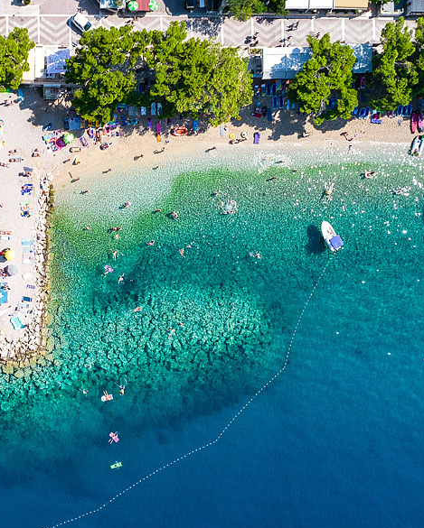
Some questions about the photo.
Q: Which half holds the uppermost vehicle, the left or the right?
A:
left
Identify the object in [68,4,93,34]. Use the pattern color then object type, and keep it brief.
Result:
white vehicle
